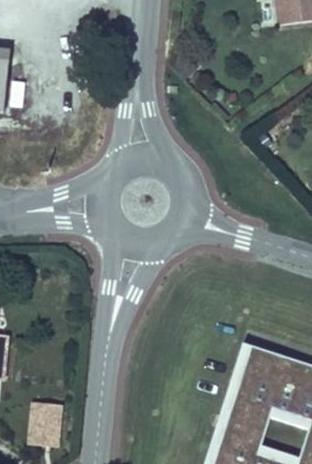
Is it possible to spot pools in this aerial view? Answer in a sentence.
No, no pool can be seen from above.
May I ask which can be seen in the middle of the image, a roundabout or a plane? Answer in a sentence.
It is a roundabout that can be seen in the middle of the image.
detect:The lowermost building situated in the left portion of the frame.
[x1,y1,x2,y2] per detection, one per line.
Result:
[26,402,64,448]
